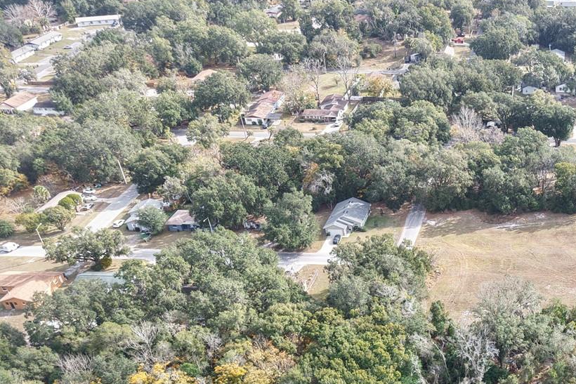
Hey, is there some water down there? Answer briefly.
No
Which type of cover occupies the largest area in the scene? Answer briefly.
trees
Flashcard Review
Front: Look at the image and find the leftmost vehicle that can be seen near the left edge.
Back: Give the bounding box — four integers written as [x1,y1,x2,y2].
[0,241,22,253]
